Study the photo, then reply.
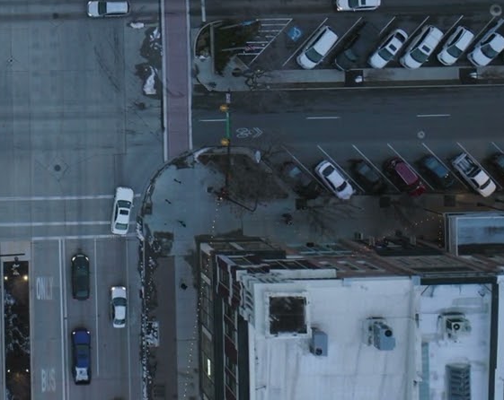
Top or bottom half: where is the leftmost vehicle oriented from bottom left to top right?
top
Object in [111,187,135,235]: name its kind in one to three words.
car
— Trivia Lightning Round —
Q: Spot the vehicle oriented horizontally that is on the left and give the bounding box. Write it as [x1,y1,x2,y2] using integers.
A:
[88,0,128,19]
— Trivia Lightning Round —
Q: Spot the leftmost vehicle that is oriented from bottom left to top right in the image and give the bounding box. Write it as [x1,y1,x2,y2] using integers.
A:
[297,26,340,68]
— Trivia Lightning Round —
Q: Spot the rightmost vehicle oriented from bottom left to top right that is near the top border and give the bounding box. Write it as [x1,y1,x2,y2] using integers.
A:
[467,18,504,67]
